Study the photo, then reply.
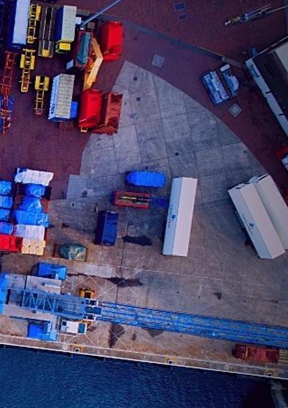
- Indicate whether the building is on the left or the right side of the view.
right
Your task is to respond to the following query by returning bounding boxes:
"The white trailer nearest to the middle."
[162,177,197,258]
